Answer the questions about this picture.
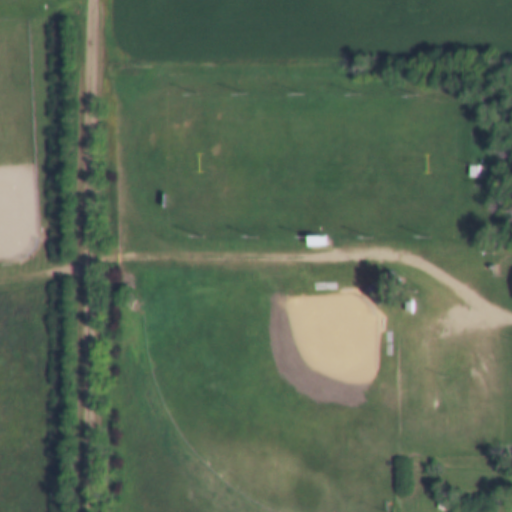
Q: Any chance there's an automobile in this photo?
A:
No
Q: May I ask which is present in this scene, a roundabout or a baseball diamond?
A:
baseball diamond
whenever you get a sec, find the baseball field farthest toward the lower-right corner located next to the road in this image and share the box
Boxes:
[268,286,388,407]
